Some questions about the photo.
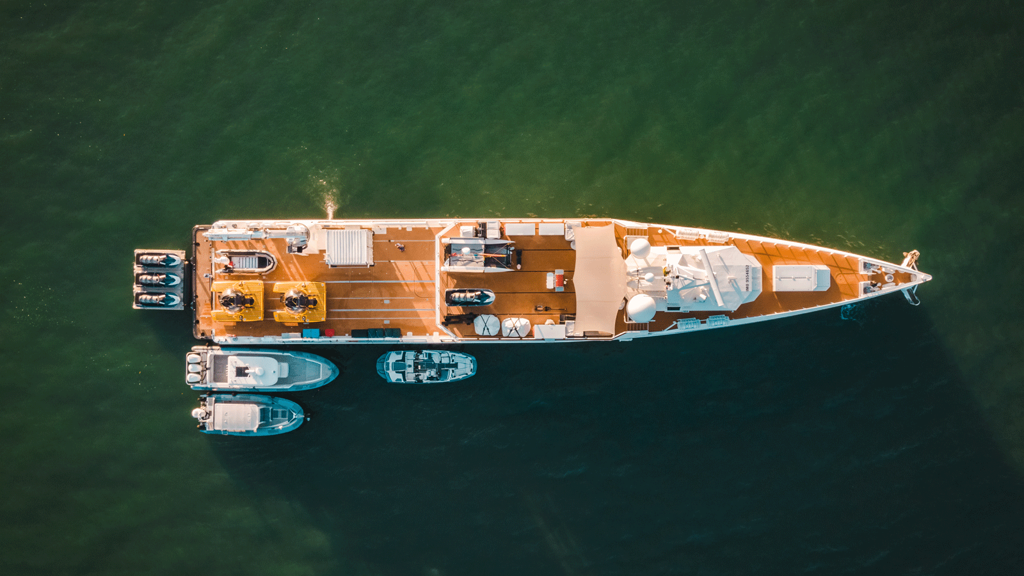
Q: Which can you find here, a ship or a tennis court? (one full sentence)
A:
There is a ship in the scene.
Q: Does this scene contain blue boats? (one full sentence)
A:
Yes, you can see a blue boat in this photo.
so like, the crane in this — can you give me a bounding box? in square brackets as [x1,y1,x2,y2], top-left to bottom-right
[208,221,316,256]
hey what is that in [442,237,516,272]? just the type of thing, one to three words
boat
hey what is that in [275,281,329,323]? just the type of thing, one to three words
ship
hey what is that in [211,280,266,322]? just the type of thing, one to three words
ship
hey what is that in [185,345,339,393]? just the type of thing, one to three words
boat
